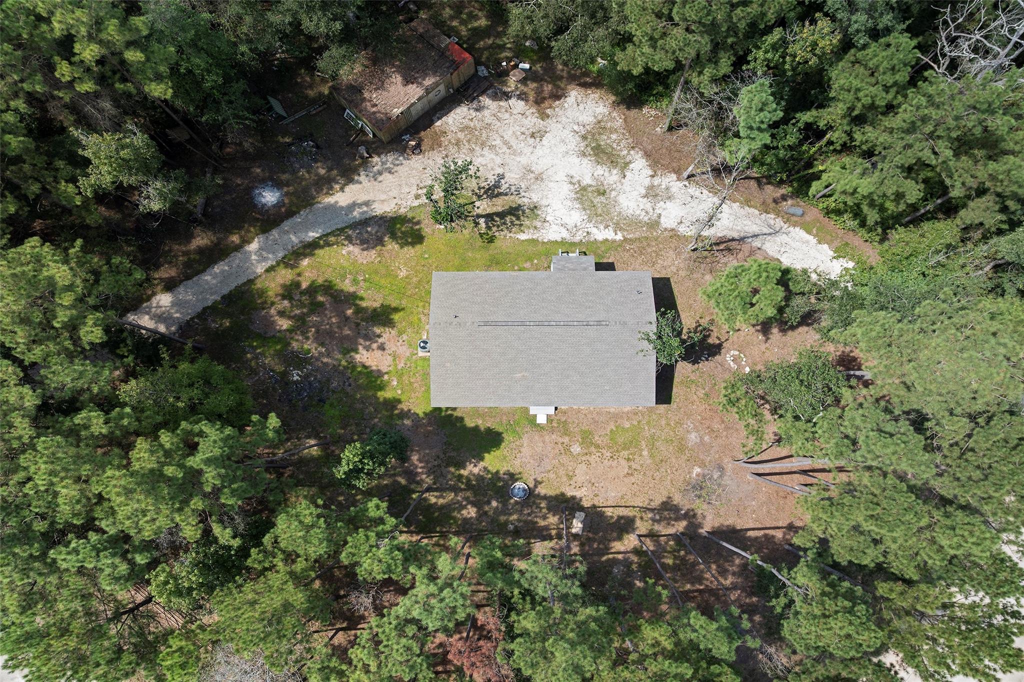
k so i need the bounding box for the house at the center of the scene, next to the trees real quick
[428,249,657,423]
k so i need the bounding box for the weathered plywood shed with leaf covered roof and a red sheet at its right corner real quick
[335,6,475,143]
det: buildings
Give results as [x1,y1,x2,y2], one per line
[428,249,657,423]
[335,6,475,143]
